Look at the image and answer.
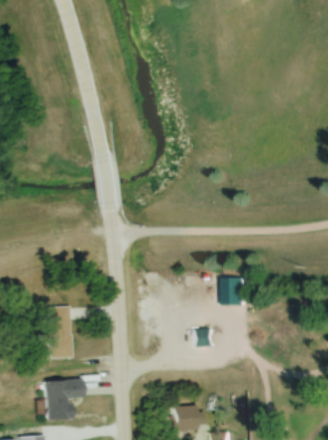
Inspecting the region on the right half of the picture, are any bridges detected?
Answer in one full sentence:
No, I see no bridge on the right half of the picture.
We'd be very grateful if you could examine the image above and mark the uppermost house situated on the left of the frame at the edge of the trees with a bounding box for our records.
[51,306,73,358]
